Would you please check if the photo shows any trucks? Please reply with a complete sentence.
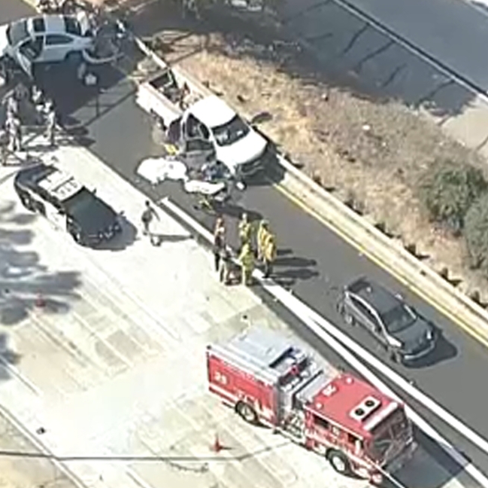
Yes, the photo shows a truck.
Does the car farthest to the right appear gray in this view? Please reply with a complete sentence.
Yes, gray is the color of the car farthest to the right.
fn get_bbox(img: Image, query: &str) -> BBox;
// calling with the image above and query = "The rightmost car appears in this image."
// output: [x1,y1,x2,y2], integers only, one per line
[339,269,442,362]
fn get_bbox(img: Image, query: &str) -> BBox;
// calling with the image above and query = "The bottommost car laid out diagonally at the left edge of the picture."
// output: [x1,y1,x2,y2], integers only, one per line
[8,160,128,249]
